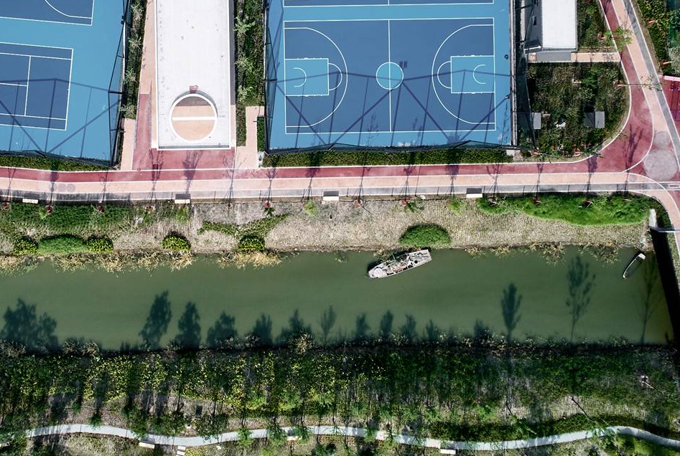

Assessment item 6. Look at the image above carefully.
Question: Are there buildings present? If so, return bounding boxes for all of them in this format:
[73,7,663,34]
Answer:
[514,0,579,62]
[151,0,235,150]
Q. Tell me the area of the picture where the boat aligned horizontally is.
center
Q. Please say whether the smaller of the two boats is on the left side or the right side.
right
